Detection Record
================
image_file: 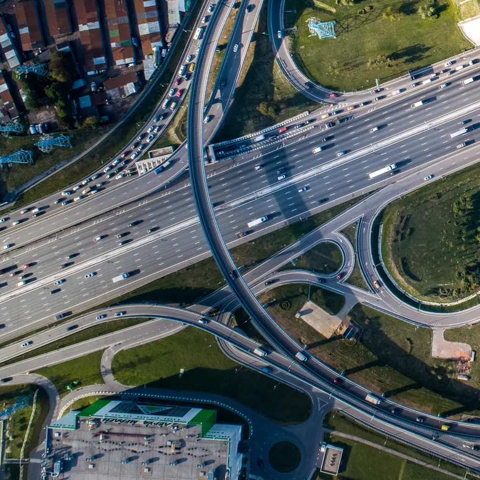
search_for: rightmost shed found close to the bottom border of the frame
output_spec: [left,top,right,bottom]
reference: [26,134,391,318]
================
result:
[321,443,344,475]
